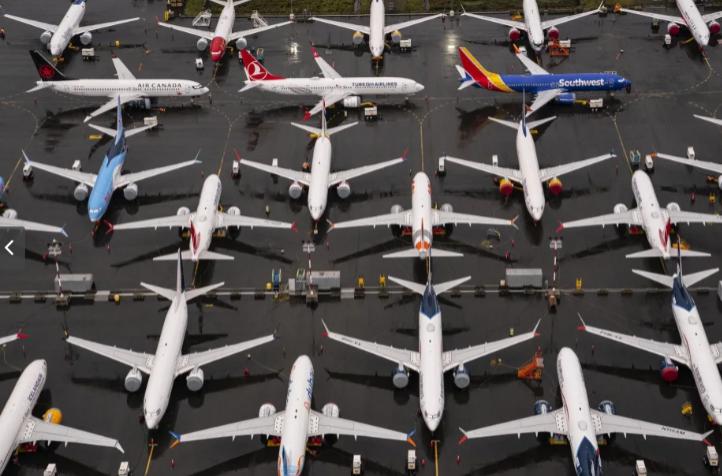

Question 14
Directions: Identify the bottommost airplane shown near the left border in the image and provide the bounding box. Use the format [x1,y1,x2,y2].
[0,352,121,471]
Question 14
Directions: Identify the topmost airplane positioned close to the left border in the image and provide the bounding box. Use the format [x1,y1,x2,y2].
[4,0,143,61]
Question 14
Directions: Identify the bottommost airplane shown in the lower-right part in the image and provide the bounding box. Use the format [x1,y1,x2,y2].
[462,346,712,476]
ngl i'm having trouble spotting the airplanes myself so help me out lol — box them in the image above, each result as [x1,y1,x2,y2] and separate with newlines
[0,352,121,471]
[23,49,208,125]
[439,89,617,221]
[170,346,416,476]
[105,169,299,261]
[235,45,423,121]
[460,0,602,56]
[616,0,722,51]
[556,166,722,259]
[577,238,722,422]
[25,94,201,226]
[306,0,448,61]
[462,346,712,476]
[325,166,519,259]
[0,319,27,347]
[234,93,410,224]
[454,42,630,118]
[4,0,143,61]
[155,0,297,67]
[0,174,68,238]
[63,247,282,432]
[322,244,541,429]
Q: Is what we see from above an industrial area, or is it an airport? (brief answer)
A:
airport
